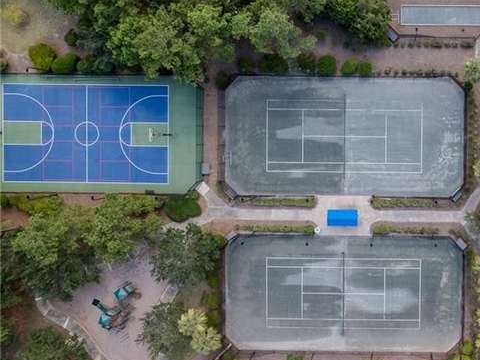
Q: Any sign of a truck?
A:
No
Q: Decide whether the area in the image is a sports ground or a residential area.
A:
sports ground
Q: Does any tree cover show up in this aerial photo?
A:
Yes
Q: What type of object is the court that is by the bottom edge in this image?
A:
tennis court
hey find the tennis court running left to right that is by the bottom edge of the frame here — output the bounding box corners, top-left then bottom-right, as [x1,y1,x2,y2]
[224,234,465,353]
